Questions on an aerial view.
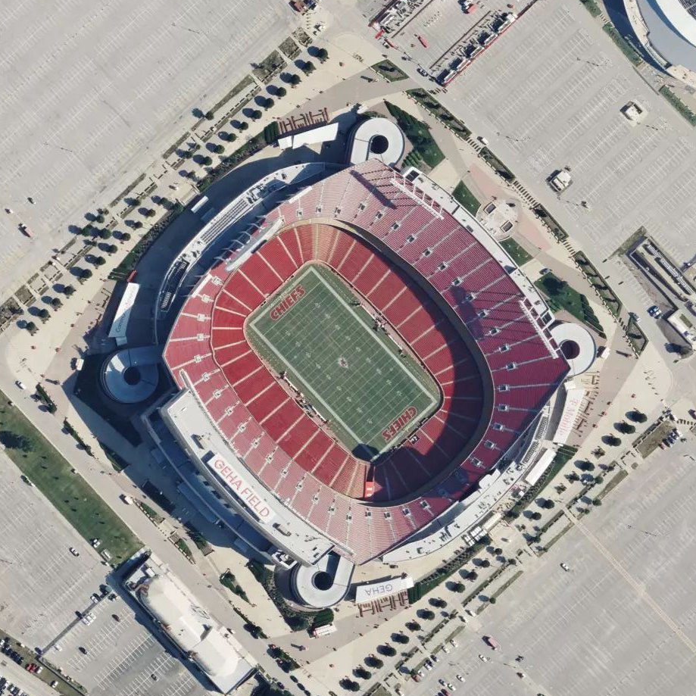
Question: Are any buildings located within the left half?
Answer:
Yes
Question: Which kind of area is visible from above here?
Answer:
sports ground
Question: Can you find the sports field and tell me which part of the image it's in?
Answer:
center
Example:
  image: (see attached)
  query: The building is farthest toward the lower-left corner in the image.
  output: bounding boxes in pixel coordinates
[121,555,260,692]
